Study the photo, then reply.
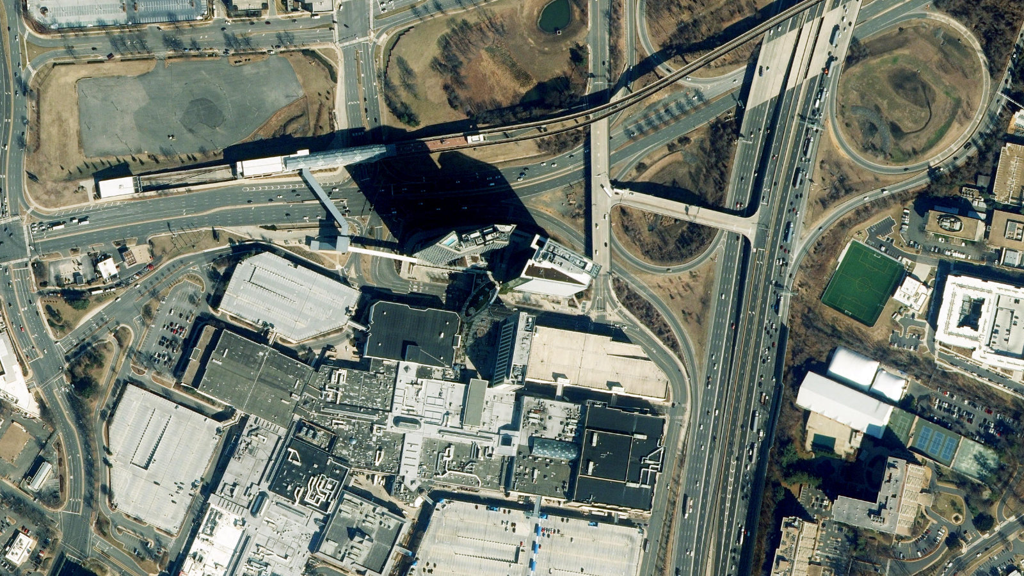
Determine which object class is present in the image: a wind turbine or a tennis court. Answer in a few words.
tennis court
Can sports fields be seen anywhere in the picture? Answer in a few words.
Yes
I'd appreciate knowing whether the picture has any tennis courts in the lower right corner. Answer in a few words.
Yes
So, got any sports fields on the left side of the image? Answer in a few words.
No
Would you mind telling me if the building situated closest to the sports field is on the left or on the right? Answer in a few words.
right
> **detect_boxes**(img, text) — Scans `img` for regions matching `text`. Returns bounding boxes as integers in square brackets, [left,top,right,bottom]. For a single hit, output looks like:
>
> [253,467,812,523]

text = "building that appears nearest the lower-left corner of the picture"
[5,532,33,565]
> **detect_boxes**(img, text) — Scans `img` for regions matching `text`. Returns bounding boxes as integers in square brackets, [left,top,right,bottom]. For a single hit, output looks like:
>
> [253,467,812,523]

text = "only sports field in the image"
[822,240,904,327]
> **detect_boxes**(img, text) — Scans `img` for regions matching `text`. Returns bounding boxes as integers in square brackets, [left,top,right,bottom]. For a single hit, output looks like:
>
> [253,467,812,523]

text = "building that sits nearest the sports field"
[891,276,933,312]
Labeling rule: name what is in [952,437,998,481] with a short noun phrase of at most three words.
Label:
tennis court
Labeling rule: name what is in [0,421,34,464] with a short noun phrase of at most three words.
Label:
building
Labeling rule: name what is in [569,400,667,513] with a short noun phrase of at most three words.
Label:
building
